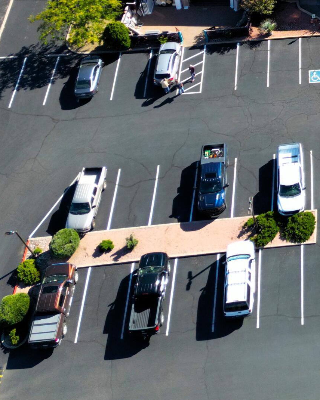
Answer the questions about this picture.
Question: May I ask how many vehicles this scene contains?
8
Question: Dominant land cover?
paved ground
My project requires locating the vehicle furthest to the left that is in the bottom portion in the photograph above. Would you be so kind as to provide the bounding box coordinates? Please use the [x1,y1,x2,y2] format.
[23,262,73,351]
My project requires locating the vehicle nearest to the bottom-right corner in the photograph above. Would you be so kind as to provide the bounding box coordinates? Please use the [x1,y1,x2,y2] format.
[221,242,255,317]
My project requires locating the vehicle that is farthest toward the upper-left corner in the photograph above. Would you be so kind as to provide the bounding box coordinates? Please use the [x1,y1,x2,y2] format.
[72,54,104,99]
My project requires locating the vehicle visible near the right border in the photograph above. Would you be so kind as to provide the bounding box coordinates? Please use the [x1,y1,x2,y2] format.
[273,139,306,214]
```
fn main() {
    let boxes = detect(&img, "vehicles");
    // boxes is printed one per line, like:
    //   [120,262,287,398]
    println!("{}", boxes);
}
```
[72,54,104,99]
[273,139,306,214]
[23,262,73,351]
[221,242,255,317]
[195,141,227,213]
[151,41,182,84]
[65,161,108,233]
[129,249,170,338]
